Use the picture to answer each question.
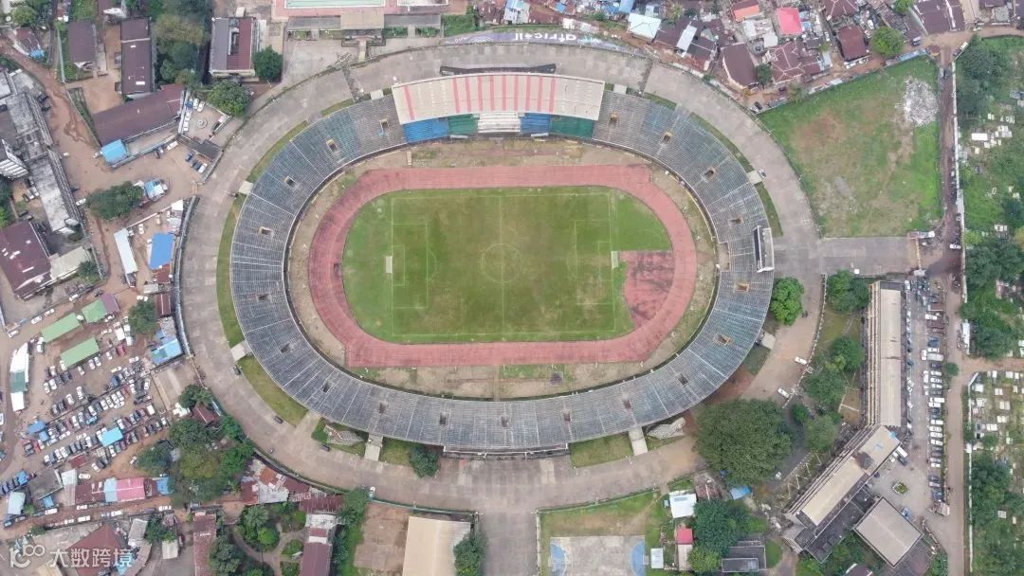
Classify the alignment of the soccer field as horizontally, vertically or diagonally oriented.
horizontally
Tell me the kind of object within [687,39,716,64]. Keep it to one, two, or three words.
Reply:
house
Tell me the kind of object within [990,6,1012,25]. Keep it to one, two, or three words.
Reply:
house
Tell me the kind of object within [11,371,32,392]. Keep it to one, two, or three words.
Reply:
shed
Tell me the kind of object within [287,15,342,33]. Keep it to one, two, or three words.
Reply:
building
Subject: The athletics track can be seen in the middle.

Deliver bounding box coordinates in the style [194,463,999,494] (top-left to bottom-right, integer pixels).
[309,165,697,367]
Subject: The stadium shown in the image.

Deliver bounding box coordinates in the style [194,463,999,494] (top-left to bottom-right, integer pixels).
[230,63,775,461]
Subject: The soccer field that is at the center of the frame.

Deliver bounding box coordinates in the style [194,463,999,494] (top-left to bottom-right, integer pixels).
[342,186,672,344]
